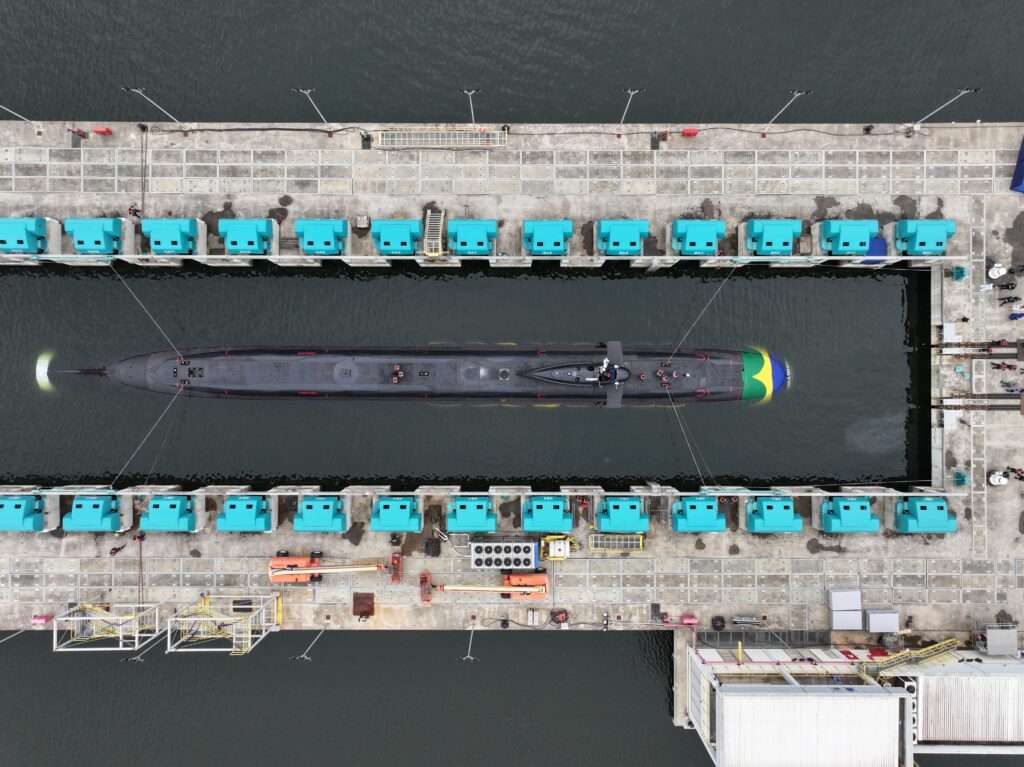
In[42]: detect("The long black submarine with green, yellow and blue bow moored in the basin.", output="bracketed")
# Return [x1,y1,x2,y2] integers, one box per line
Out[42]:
[36,342,790,406]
